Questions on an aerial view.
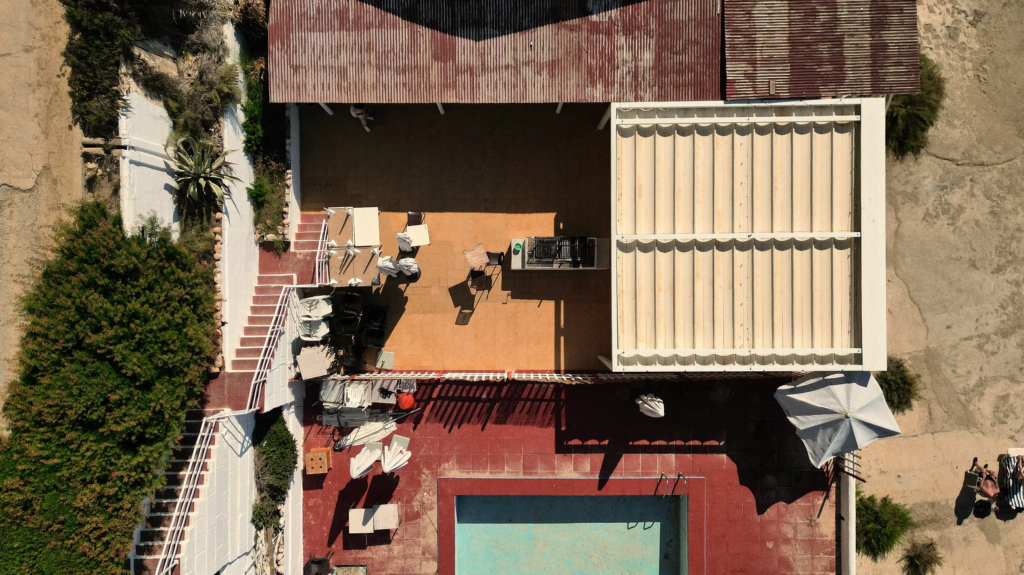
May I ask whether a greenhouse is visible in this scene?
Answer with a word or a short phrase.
No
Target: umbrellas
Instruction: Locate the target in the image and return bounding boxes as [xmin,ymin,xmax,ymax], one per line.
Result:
[334,419,398,448]
[636,392,664,416]
[399,230,423,252]
[367,405,403,419]
[399,257,424,276]
[774,354,901,469]
[382,440,413,473]
[377,253,400,277]
[353,448,380,479]
[317,403,373,427]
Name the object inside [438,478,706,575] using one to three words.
swimming pool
